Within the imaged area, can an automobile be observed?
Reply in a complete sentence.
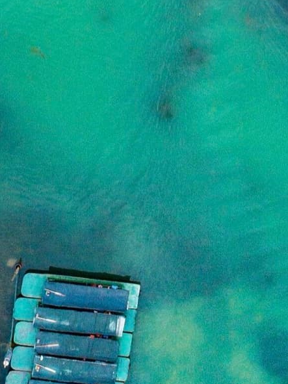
No, there's no automobile here.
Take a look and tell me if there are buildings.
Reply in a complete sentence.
No, no building is visible in the scene.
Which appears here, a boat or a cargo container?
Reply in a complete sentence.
Of the two, only a boat appears.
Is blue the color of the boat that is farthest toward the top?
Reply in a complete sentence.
Yes, the boat that is farthest toward the top is indeed blue.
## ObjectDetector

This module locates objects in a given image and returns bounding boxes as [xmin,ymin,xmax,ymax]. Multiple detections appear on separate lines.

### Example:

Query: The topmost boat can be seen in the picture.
[21,274,140,310]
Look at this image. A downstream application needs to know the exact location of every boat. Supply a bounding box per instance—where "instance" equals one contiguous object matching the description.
[11,346,131,384]
[21,274,140,310]
[5,371,126,384]
[13,297,138,335]
[13,322,133,359]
